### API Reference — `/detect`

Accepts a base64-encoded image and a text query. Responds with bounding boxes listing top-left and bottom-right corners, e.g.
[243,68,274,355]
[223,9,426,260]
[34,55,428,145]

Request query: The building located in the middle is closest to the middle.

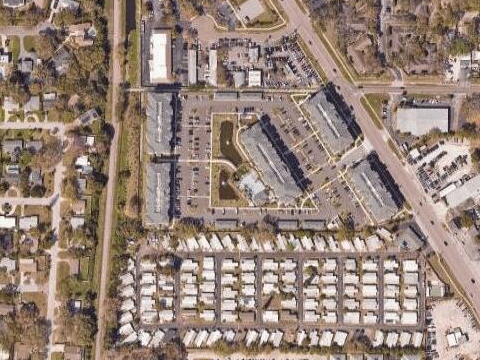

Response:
[239,170,269,206]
